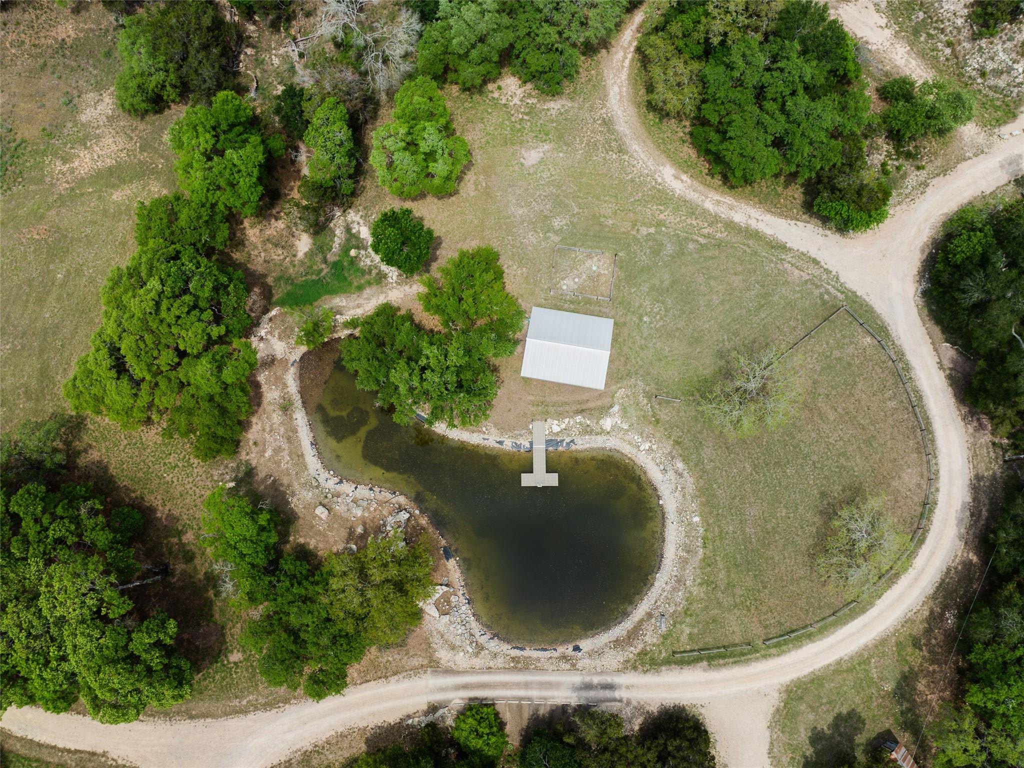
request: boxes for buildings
[521,306,614,390]
[878,734,919,768]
